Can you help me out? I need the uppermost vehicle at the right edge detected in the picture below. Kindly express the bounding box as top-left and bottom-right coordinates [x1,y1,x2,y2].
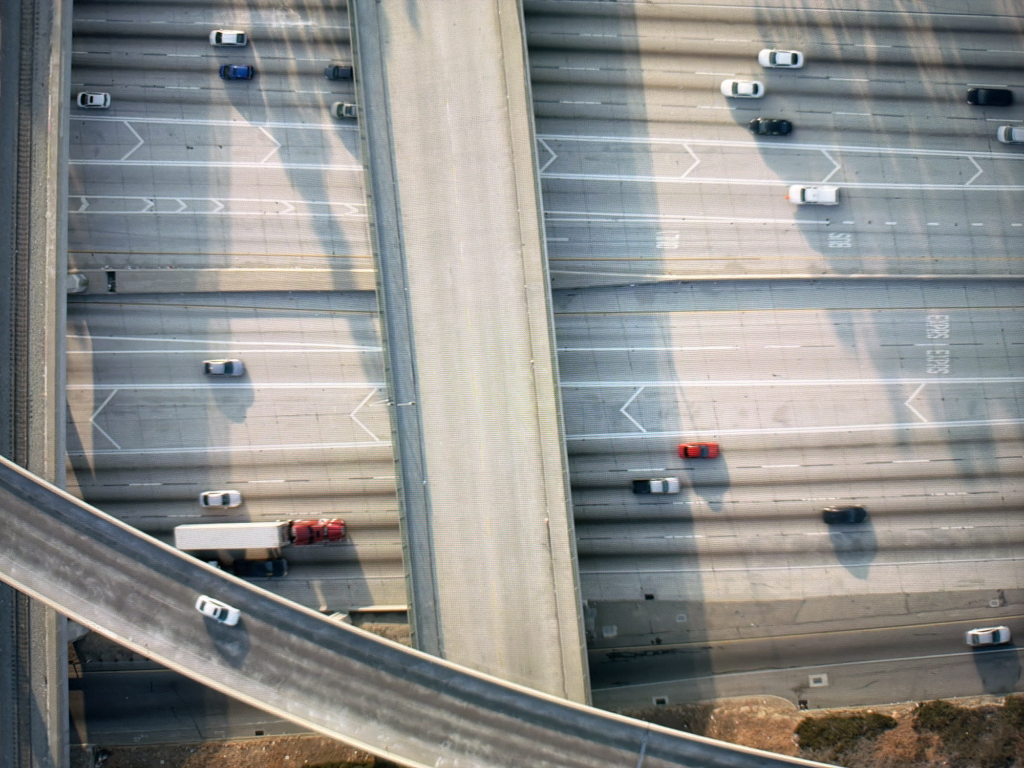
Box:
[966,85,1015,107]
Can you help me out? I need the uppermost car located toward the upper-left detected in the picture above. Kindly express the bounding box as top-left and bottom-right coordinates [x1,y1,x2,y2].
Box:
[209,27,249,48]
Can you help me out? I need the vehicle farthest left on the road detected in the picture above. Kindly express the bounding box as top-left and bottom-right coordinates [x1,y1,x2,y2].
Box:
[76,89,113,109]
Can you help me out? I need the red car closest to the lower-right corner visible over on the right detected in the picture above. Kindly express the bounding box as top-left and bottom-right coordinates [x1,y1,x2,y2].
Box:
[678,442,720,461]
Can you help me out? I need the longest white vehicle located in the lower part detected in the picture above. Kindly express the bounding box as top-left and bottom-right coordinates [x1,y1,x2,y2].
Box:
[175,513,350,549]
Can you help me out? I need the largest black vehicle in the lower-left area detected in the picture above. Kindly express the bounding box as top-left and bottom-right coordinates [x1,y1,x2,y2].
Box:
[231,557,290,580]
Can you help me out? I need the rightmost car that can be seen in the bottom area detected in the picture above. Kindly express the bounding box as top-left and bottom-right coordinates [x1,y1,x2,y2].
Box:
[965,625,1011,646]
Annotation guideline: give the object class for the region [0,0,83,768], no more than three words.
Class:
bridge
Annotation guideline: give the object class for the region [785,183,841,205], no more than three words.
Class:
truck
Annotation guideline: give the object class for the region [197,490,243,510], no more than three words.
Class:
car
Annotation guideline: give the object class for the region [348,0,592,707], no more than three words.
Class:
overpass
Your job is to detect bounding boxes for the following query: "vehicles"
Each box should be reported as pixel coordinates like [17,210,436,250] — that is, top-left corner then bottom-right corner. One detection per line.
[748,115,793,136]
[678,442,720,461]
[785,183,841,205]
[996,124,1024,144]
[966,85,1015,107]
[720,78,765,99]
[231,557,290,580]
[76,89,113,109]
[197,490,243,510]
[631,476,680,497]
[175,513,350,549]
[823,505,868,526]
[218,61,256,81]
[209,27,249,48]
[757,48,804,68]
[323,61,360,83]
[201,359,246,378]
[965,625,1011,646]
[330,99,363,119]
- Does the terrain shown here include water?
No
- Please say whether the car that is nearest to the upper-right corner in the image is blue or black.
black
